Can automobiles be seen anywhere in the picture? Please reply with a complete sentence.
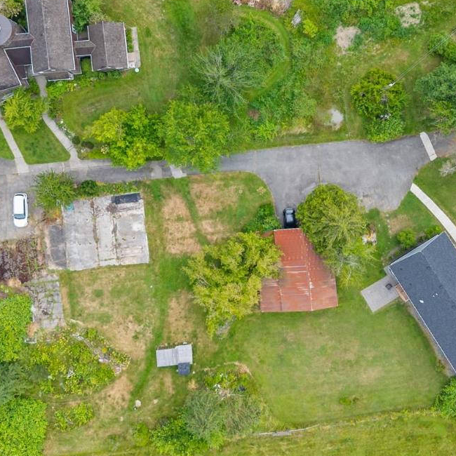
Yes, the picture does show an automobile.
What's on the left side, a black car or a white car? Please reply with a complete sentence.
What appears on the left side is a white car.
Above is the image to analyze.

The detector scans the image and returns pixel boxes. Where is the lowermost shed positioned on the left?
[157,344,193,368]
